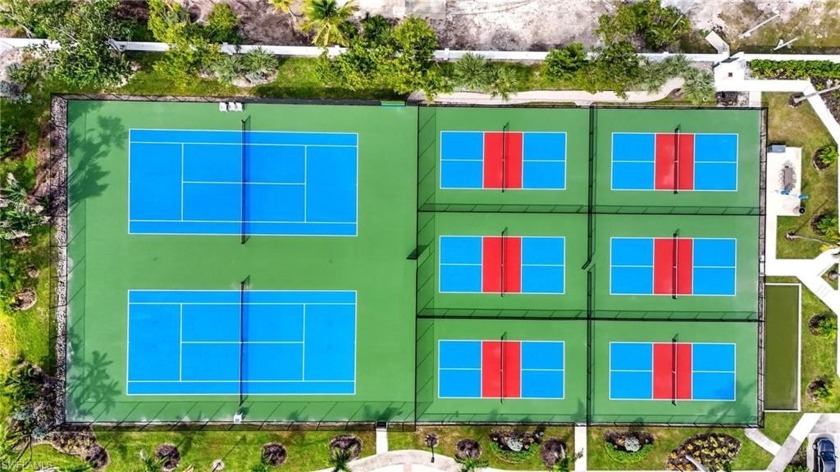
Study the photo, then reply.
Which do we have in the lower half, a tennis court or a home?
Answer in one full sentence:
Looking in the lower half, you will find a tennis court.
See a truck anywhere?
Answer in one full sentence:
No, the picture doesn't show any truck.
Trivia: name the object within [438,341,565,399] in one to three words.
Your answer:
sports court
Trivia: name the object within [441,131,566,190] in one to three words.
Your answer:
sports court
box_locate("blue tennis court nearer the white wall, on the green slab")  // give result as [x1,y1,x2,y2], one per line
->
[129,129,358,236]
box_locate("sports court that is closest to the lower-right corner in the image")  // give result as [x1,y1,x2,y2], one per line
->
[609,342,736,401]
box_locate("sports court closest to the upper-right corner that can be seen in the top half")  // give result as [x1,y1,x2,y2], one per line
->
[611,132,738,190]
